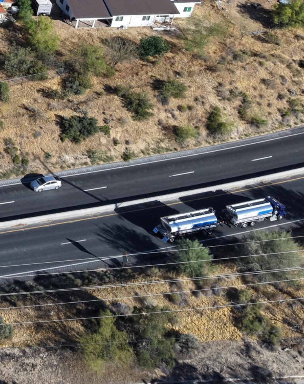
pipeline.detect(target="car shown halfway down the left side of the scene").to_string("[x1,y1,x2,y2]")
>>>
[29,174,63,191]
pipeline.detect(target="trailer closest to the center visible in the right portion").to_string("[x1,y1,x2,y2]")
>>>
[150,202,222,240]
